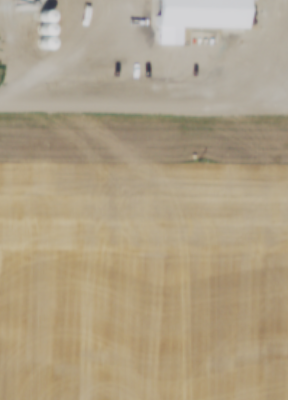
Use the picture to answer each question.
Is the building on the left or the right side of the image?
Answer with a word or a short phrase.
right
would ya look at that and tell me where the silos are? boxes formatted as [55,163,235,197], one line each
[38,36,60,50]
[38,22,60,36]
[38,9,60,23]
